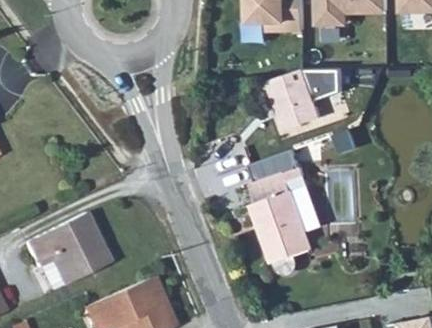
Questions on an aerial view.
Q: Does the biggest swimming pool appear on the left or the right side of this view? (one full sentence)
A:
The biggest swimming pool sits on the right side.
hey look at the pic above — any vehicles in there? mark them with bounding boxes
[222,172,249,188]
[114,71,130,92]
[214,138,236,158]
[218,158,248,172]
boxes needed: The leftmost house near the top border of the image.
[238,0,304,44]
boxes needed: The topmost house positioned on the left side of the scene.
[27,212,116,290]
